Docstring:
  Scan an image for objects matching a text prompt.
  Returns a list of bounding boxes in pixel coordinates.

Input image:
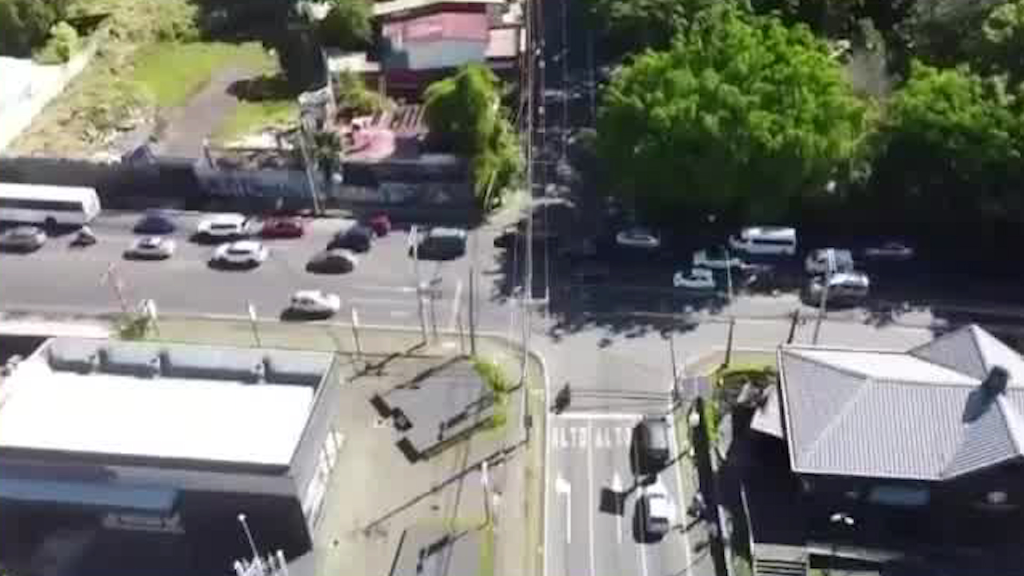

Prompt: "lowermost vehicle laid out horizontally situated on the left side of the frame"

[281,289,344,319]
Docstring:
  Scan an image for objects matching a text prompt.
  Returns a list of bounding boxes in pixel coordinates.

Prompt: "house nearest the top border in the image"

[327,0,528,101]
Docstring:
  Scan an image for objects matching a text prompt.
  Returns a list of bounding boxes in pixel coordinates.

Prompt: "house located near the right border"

[774,325,1024,530]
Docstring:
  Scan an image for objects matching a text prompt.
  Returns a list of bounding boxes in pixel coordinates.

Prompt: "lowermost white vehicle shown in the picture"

[638,475,674,542]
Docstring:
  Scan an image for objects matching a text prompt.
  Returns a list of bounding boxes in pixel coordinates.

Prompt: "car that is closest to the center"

[488,226,541,252]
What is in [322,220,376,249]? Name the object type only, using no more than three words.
car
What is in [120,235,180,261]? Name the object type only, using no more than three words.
car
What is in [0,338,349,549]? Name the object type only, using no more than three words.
building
